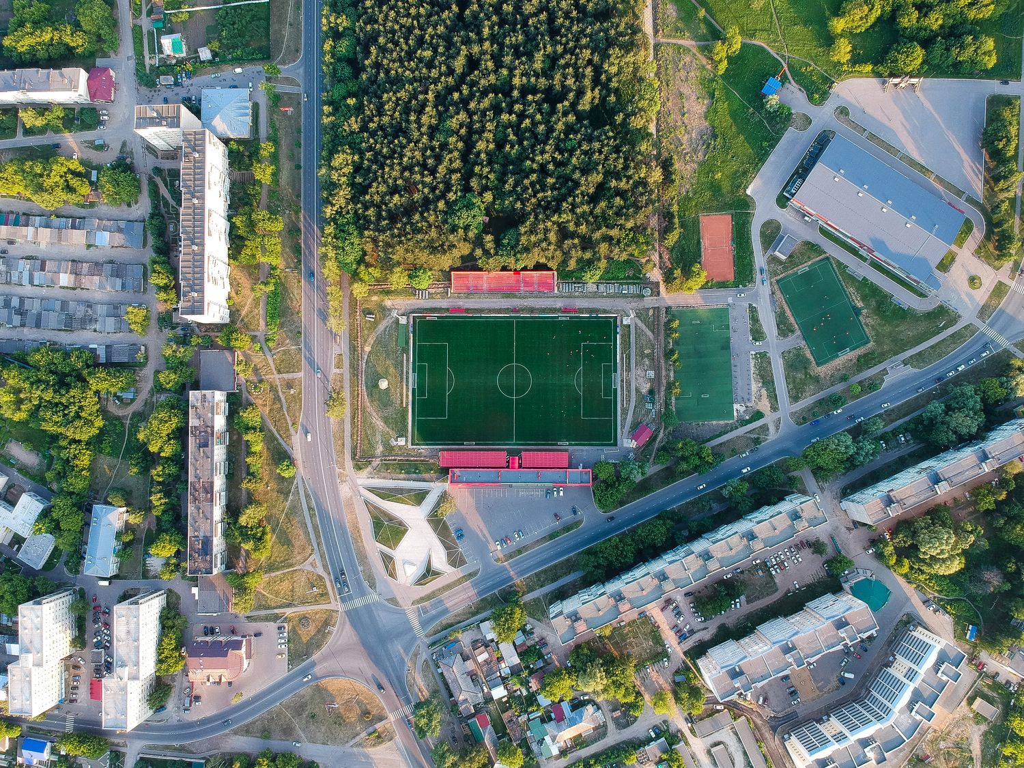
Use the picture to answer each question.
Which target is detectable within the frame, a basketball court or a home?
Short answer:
home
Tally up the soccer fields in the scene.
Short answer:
3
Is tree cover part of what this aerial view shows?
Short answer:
Yes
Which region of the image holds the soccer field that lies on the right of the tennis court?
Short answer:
right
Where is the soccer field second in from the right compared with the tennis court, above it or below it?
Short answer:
below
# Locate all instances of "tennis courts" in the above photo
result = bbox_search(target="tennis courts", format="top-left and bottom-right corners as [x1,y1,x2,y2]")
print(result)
[700,214,735,281]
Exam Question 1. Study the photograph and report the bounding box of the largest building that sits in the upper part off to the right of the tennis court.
[783,133,967,290]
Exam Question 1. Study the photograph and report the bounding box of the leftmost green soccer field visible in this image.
[412,316,617,446]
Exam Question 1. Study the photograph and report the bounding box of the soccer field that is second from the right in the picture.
[672,307,734,422]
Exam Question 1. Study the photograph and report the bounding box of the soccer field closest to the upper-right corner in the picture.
[776,257,870,367]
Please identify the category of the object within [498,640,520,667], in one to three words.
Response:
house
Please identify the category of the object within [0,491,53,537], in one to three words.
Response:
building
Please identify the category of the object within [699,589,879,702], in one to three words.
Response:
building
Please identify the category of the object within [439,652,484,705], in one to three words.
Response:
house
